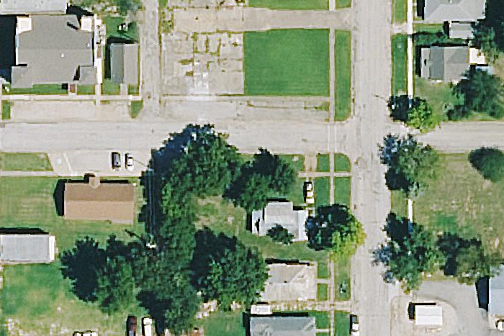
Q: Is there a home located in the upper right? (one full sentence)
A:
Yes, a home is visible in the upper right.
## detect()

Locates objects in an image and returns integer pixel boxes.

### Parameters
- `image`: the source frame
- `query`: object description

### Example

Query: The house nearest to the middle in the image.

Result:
[253,201,308,239]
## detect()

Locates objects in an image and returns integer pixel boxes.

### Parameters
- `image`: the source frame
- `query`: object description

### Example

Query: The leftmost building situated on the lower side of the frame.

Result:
[0,234,55,262]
